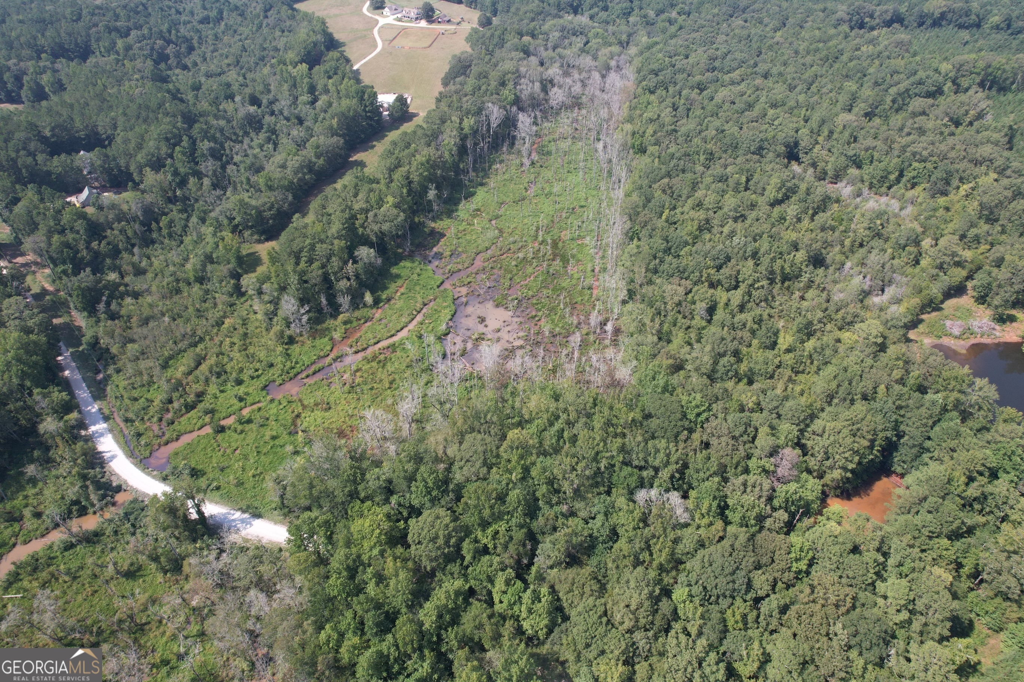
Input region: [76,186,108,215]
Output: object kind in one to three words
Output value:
house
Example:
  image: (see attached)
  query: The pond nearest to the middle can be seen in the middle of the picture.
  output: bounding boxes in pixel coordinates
[437,294,529,372]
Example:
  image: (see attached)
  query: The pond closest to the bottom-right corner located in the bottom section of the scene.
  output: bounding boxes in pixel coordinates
[814,453,905,522]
